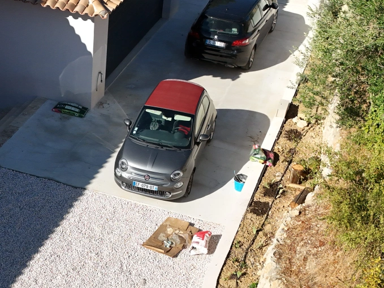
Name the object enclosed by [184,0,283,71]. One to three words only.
car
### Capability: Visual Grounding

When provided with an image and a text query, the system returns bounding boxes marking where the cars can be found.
[112,79,222,202]
[184,0,283,71]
